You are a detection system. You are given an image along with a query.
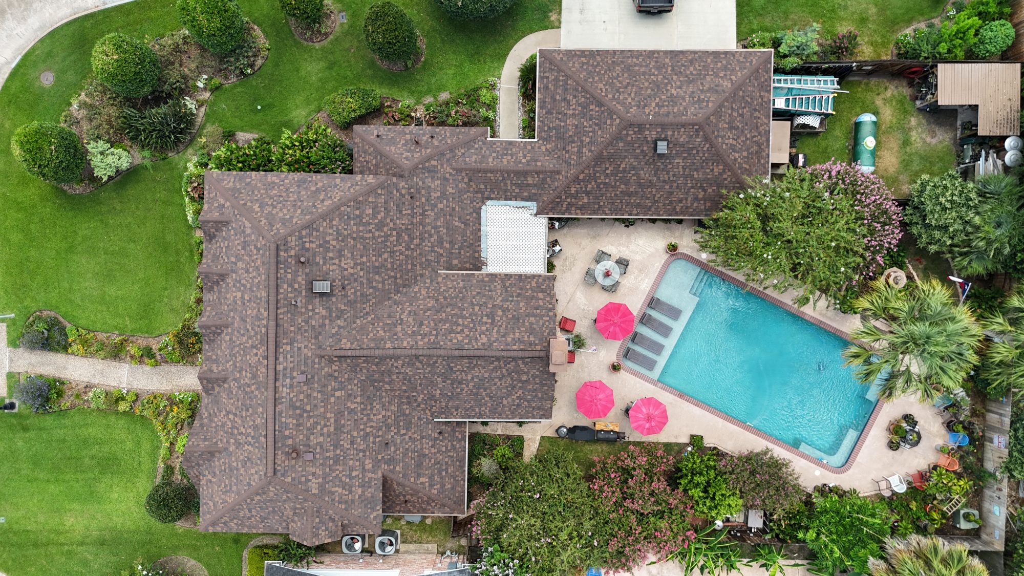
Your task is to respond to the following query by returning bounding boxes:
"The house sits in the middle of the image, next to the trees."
[181,48,774,546]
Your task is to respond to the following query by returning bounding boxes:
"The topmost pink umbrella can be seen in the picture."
[594,301,633,340]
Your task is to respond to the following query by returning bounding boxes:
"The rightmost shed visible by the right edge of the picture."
[912,63,1021,144]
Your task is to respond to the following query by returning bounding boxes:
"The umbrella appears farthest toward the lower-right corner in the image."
[626,394,666,434]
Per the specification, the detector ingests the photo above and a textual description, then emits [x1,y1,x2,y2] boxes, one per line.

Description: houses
[181,48,774,546]
[253,553,473,576]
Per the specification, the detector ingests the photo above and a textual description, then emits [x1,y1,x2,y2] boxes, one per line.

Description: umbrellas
[594,301,633,340]
[626,394,666,434]
[574,378,613,417]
